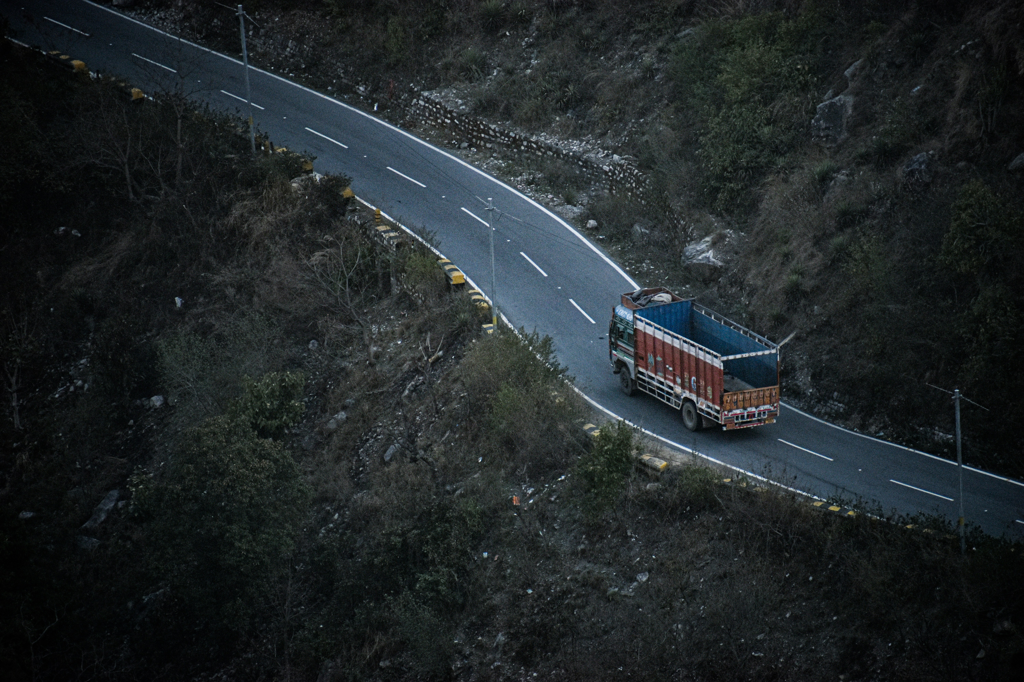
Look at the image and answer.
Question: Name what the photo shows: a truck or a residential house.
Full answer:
Of the two, only a truck appears.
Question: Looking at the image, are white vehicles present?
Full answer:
No, I can't see a single white vehicle in this photo.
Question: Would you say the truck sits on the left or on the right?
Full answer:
The truck appears in the right half of the scene.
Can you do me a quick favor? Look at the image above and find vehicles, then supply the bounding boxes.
[606,287,801,433]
